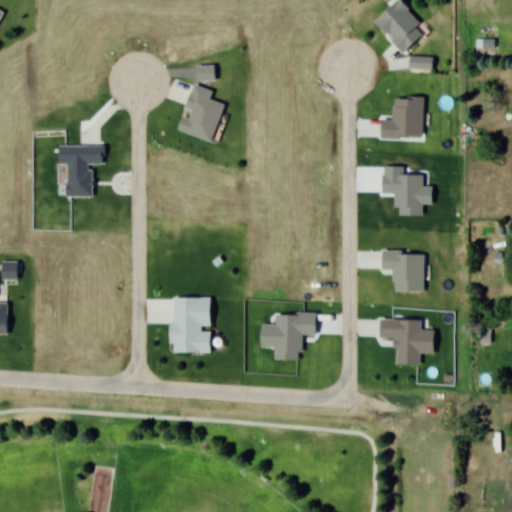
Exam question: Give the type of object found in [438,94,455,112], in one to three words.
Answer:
swimming pool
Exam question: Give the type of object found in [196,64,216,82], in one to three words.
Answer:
building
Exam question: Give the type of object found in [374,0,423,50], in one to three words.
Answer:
house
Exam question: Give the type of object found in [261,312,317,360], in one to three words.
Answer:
house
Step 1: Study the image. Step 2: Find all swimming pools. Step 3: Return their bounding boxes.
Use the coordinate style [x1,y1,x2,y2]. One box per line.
[426,366,439,380]
[438,94,455,112]
[479,372,492,386]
